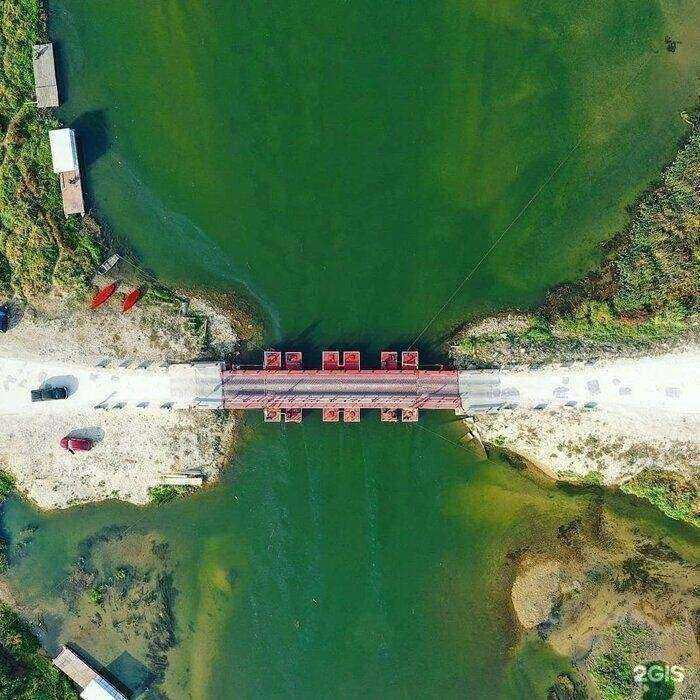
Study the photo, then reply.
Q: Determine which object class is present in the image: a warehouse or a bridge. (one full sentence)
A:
Looking from above, you can make out a bridge.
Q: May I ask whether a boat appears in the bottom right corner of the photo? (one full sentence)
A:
No, there's no boat to be seen in the bottom right corner of the photo.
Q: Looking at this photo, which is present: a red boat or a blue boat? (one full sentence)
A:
Looking from above, you can make out a red boat.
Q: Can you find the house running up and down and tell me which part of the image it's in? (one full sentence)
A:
The house running up and down appears toward the top left of the photo.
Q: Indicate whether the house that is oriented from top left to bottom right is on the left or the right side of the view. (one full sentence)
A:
The house that is oriented from top left to bottom right appears in the left half of the scene.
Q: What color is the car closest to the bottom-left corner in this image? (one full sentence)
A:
The color of the car closest to the bottom-left corner is red.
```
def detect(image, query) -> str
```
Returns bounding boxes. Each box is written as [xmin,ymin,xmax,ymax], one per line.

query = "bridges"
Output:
[221,351,461,422]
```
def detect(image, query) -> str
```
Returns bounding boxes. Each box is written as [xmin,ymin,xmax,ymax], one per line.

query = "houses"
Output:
[50,122,86,218]
[50,641,120,700]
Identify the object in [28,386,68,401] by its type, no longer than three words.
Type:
vehicle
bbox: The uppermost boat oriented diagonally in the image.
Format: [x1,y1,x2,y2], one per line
[96,252,118,275]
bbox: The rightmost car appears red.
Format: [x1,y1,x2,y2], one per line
[59,435,93,457]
